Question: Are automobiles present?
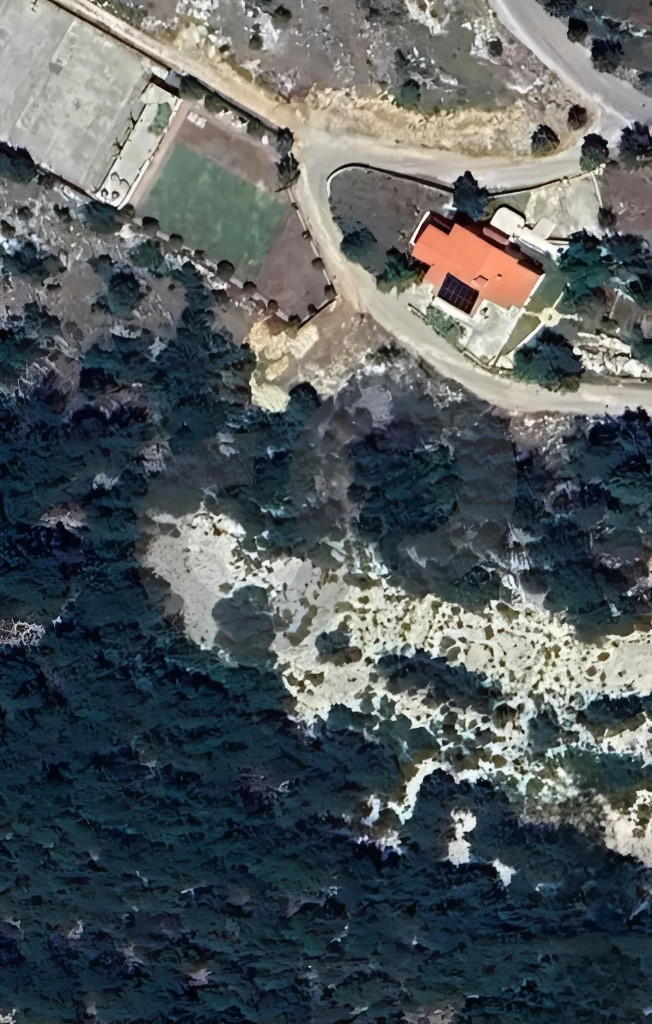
No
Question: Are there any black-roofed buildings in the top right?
No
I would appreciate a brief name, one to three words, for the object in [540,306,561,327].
fountain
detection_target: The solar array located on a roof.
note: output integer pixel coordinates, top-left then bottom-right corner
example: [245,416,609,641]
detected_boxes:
[439,271,480,312]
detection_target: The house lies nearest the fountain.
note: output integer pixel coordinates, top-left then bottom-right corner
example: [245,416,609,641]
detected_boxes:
[412,211,544,324]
